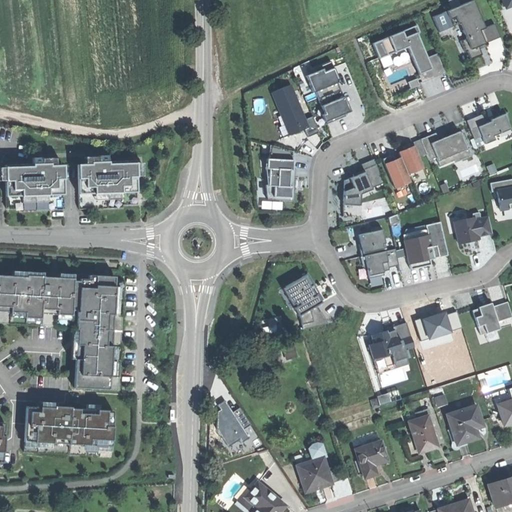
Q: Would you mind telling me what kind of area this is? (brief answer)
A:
residential area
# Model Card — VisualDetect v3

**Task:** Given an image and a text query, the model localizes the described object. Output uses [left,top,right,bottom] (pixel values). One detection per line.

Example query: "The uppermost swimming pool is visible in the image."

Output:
[386,68,409,84]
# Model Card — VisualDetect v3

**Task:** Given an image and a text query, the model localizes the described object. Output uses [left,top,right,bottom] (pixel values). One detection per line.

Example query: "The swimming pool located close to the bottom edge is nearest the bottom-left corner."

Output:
[224,483,241,499]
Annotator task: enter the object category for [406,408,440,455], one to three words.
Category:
house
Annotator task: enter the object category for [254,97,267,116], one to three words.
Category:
swimming pool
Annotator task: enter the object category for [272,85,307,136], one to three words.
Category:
house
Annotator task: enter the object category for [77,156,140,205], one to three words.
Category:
building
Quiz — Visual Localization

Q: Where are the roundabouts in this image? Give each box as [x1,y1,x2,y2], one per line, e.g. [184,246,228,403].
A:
[160,206,234,280]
